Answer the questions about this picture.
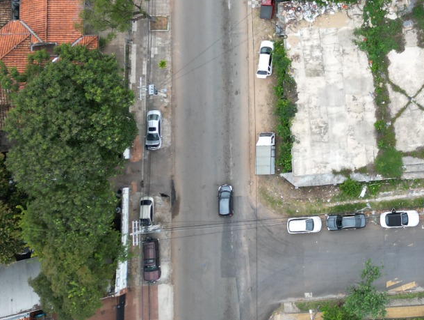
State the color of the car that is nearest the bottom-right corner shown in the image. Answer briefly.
white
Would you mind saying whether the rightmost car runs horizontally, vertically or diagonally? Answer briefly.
horizontally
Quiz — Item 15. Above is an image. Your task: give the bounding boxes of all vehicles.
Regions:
[142,110,164,150]
[139,236,161,282]
[254,39,275,78]
[326,212,366,233]
[135,196,155,229]
[252,131,275,176]
[381,209,420,229]
[287,216,323,235]
[259,0,276,20]
[215,184,235,217]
